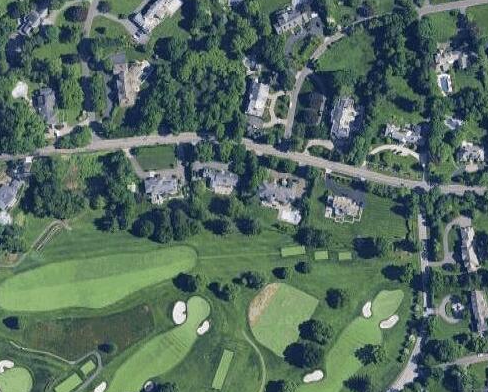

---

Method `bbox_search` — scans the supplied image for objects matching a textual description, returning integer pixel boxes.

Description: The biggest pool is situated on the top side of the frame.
[438,74,453,94]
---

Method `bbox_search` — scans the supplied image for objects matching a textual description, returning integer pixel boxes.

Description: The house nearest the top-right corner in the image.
[432,48,468,66]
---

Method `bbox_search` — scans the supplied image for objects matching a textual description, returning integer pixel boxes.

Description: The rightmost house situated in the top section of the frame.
[458,142,484,164]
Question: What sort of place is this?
golf course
